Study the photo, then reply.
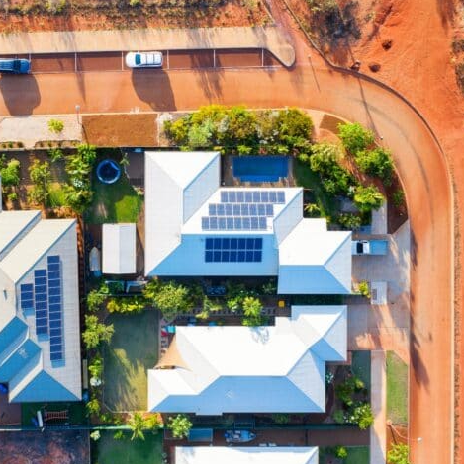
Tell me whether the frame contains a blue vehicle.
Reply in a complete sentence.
Yes, a blue vehicle is visible in the scene.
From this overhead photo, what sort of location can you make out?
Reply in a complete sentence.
This image shows a residential area.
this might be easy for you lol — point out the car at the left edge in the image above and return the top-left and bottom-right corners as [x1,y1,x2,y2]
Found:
[0,57,31,75]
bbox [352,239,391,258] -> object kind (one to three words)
vehicle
